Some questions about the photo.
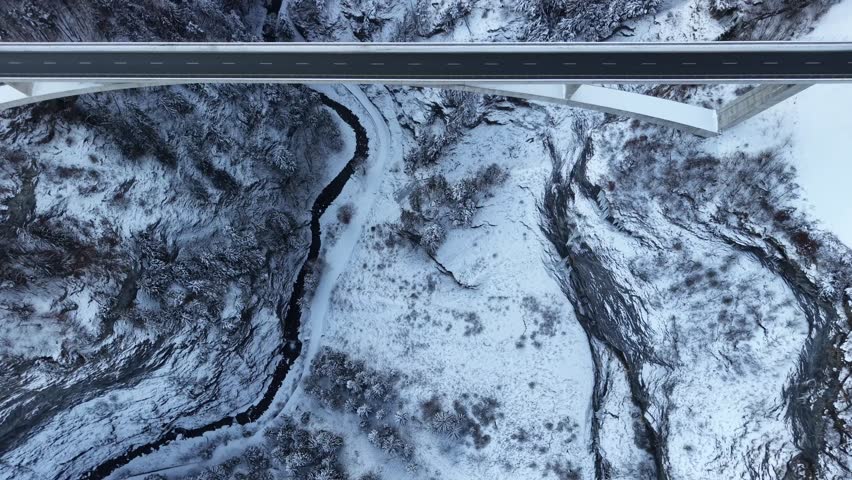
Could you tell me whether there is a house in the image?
No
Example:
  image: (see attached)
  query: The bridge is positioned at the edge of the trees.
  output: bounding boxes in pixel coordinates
[0,42,852,139]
